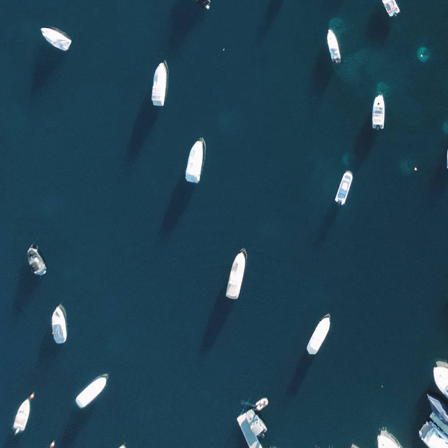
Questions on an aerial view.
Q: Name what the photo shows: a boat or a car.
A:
boat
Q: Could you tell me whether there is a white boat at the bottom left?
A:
Yes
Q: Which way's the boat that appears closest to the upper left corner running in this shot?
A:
on a diagonal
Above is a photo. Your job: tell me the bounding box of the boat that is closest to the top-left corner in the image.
[40,27,76,54]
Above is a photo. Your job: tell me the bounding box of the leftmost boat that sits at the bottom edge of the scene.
[12,400,32,435]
